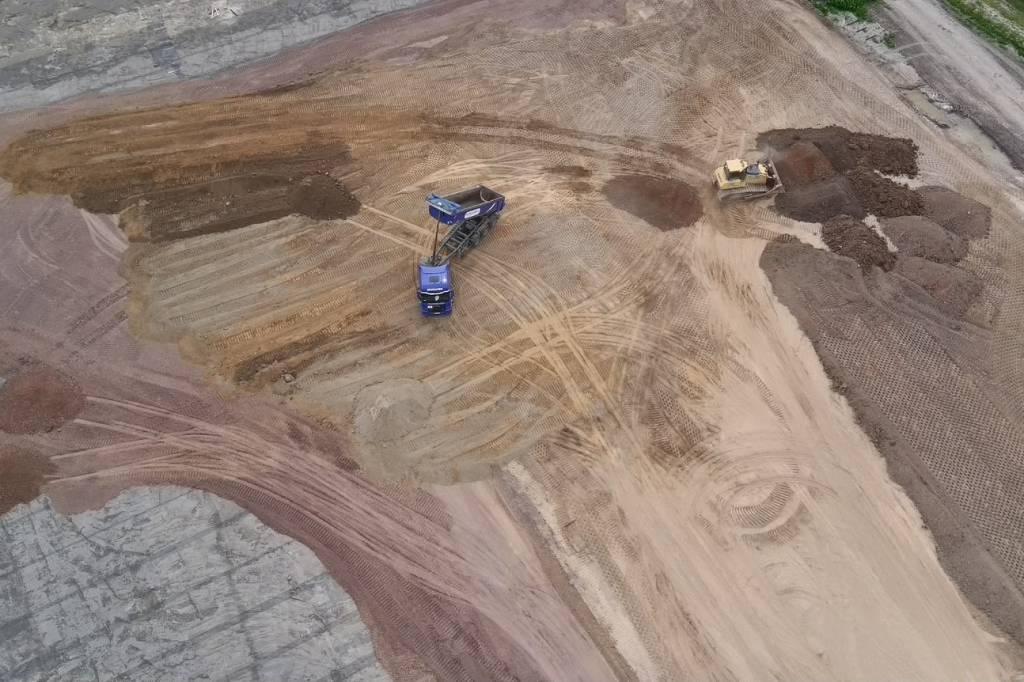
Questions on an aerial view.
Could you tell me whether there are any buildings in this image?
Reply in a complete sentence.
No, the photo shows no building.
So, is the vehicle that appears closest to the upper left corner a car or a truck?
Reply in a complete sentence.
It looks like the vehicle that appears closest to the upper left corner is a truck.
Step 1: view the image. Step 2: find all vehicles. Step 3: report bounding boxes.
[415,182,505,312]
[706,153,784,200]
